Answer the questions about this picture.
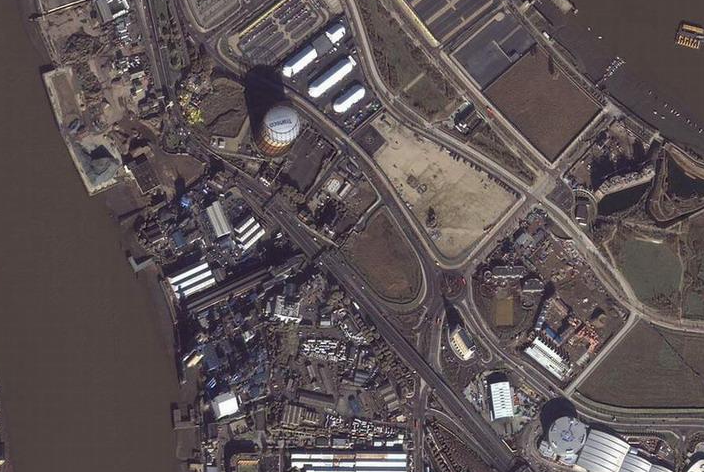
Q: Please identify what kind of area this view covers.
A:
port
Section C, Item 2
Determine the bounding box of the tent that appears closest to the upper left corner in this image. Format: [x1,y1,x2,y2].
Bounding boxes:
[282,50,315,78]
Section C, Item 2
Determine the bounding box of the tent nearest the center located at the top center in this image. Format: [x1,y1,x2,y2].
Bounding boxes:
[332,89,363,116]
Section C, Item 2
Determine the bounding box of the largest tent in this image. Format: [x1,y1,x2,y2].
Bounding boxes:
[306,62,350,101]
